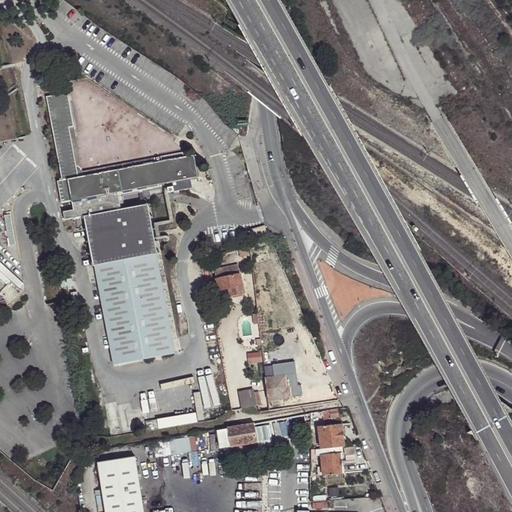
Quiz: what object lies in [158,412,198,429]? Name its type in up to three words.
shed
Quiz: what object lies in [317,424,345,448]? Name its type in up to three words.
house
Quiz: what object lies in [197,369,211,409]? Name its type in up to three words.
vehicle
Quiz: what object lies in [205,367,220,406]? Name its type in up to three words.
vehicle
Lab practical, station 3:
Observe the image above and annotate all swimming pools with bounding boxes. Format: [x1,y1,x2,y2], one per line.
[239,314,260,346]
